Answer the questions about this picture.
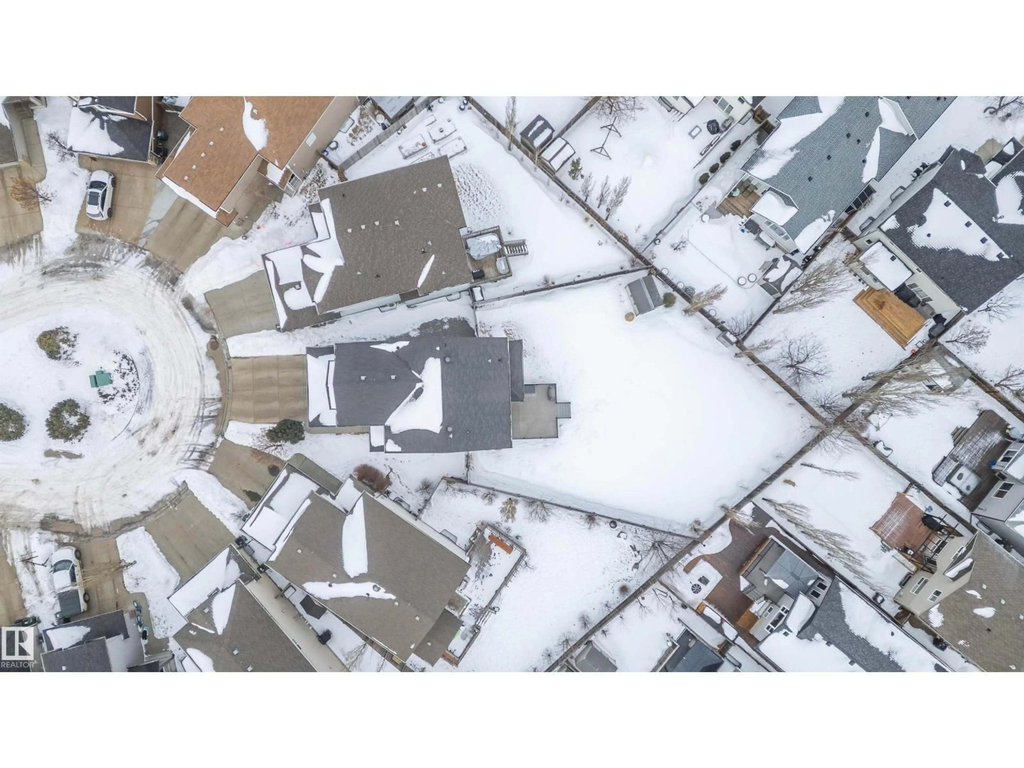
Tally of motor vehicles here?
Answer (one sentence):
The number of motor vehicles here is 2.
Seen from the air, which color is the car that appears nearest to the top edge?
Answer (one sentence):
In this view, the car that appears nearest to the top edge is white.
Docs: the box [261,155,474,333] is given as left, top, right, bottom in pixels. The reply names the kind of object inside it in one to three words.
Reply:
house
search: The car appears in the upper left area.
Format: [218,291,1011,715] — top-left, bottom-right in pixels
[80,170,113,223]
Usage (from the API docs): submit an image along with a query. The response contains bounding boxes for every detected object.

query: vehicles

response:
[46,545,88,618]
[80,170,113,223]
